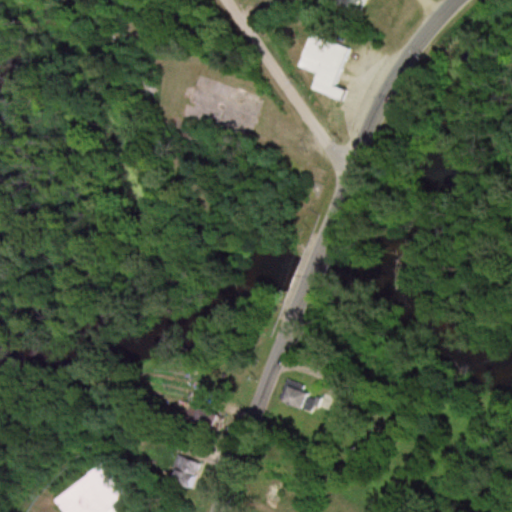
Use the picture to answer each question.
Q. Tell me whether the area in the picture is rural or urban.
rural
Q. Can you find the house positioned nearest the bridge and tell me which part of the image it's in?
bottom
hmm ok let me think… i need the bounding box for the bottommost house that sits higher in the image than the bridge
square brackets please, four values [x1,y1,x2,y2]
[300,36,350,100]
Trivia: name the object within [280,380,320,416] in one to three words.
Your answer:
house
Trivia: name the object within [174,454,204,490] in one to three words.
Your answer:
house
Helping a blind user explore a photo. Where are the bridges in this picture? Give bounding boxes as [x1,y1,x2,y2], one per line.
[278,234,329,328]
